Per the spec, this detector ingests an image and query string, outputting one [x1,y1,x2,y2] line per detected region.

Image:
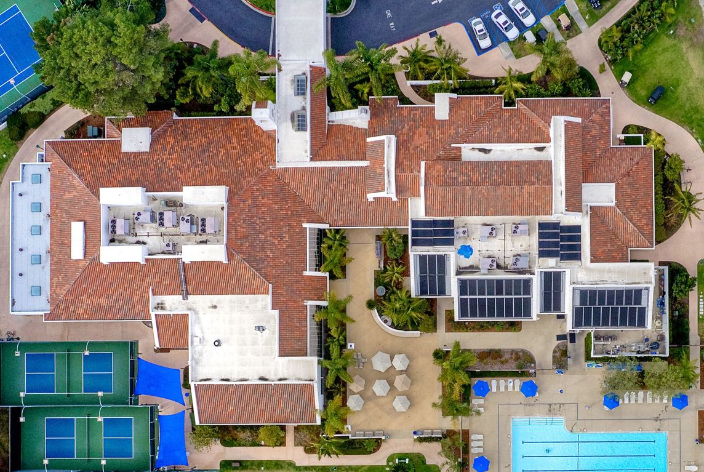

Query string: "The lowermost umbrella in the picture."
[473,456,489,472]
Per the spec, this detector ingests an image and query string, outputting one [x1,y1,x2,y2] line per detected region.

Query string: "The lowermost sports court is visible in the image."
[22,407,158,472]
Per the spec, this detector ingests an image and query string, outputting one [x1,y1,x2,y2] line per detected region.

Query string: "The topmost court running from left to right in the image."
[1,343,138,406]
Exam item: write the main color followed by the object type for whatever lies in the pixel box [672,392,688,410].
blue umbrella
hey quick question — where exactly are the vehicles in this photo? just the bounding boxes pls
[646,84,665,105]
[617,71,632,89]
[492,10,518,40]
[510,0,534,26]
[558,13,572,30]
[536,25,549,44]
[522,28,535,47]
[469,17,490,48]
